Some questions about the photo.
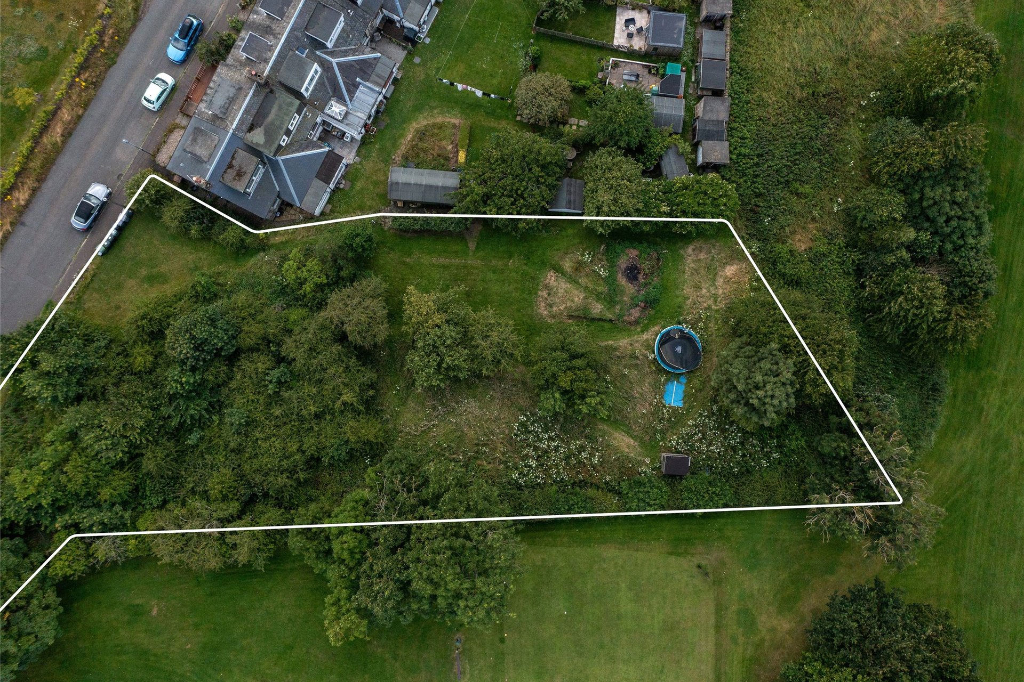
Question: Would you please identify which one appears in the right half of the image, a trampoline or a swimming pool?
trampoline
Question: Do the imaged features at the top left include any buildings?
Yes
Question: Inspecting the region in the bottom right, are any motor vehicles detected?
No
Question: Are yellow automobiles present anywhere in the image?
No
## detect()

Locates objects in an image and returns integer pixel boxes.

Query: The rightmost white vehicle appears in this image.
[142,72,177,114]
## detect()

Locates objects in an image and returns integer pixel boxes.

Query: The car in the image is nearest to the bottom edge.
[72,181,113,234]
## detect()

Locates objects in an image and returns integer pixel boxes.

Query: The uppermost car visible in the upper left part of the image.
[168,14,206,65]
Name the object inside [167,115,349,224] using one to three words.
house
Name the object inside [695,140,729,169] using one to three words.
shed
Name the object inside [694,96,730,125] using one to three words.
shed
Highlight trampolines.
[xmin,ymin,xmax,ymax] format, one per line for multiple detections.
[654,325,702,373]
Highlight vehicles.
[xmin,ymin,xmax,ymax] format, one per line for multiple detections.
[168,14,206,65]
[72,181,113,234]
[142,72,177,114]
